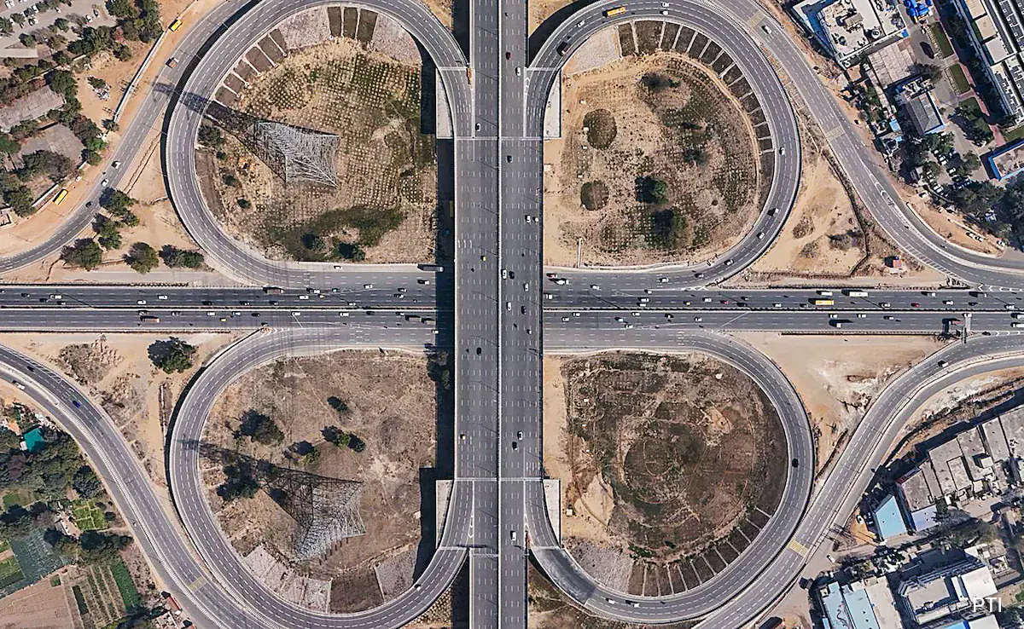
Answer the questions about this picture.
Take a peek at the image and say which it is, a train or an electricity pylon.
electricity pylon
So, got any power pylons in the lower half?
Yes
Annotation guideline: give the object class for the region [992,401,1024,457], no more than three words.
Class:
building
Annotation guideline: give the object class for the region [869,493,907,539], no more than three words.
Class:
shed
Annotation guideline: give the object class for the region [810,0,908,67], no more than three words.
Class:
building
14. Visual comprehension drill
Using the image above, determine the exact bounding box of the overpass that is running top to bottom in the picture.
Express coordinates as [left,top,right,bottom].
[436,0,561,629]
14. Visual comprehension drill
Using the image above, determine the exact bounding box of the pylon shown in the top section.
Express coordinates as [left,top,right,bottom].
[252,117,339,186]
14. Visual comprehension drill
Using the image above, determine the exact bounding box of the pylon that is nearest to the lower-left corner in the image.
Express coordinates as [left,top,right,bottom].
[282,481,365,560]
